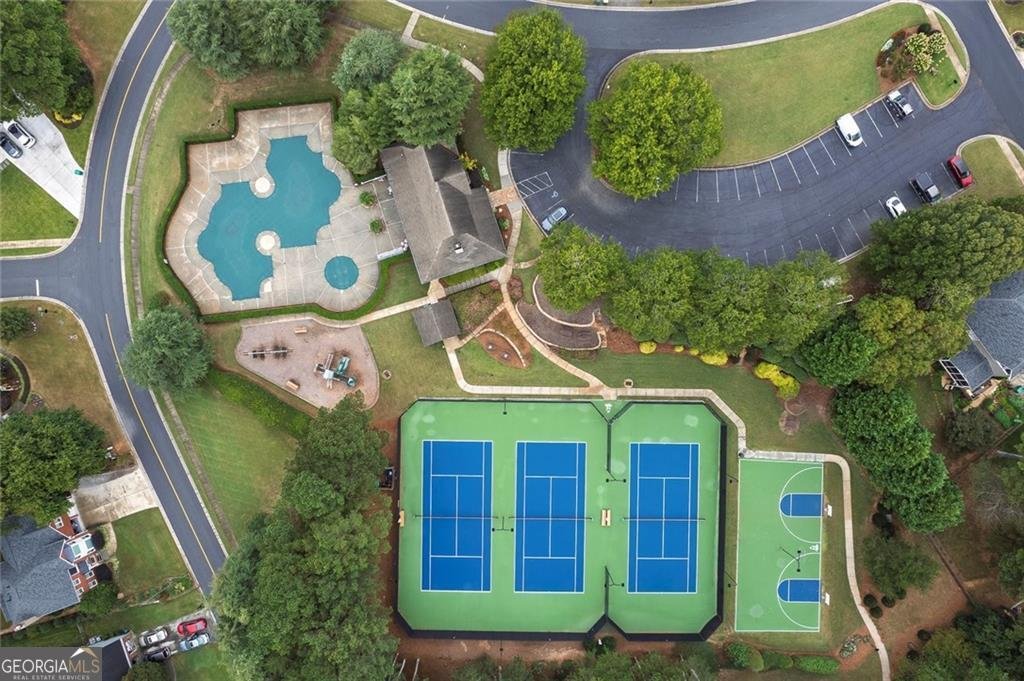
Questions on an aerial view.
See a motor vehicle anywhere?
Yes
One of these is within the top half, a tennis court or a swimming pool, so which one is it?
swimming pool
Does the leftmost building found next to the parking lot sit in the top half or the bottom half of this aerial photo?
top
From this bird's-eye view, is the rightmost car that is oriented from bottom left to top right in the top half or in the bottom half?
top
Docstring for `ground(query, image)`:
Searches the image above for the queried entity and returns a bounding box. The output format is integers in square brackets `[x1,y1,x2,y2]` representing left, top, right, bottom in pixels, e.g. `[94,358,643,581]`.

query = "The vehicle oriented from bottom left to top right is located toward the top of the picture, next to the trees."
[540,204,571,232]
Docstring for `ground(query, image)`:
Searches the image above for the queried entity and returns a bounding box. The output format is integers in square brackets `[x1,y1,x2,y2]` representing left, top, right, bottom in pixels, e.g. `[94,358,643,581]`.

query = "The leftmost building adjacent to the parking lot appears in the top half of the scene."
[382,133,506,284]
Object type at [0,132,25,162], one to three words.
car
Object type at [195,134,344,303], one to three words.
swimming pool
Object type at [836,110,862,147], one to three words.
vehicle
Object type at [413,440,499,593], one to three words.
tennis court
